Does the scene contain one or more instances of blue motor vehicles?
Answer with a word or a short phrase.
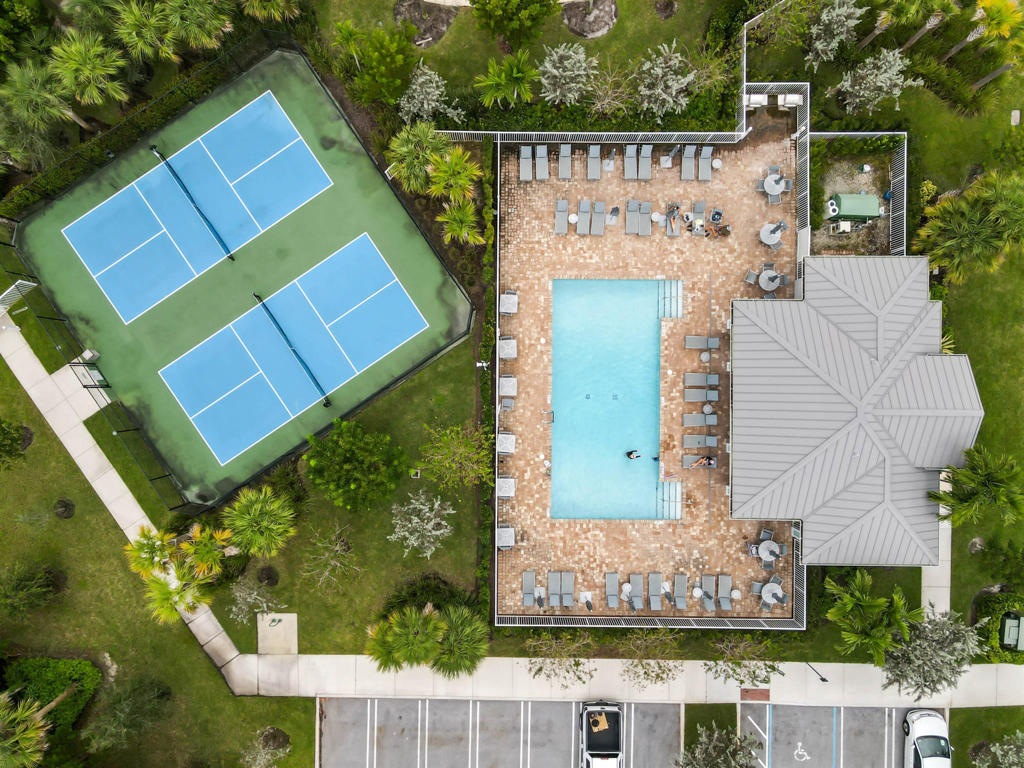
No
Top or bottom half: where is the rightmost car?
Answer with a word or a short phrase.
bottom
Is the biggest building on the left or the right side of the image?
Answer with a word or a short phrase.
right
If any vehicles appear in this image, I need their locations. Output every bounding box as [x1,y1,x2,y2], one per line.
[580,692,623,768]
[900,706,951,768]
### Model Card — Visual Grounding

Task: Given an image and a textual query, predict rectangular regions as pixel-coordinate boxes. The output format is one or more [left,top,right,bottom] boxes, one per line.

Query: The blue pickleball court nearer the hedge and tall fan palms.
[60,89,334,325]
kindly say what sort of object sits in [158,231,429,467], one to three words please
sports court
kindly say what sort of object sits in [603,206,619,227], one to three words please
umbrella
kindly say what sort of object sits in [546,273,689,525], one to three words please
swimming pool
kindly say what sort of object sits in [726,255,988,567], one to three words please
building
